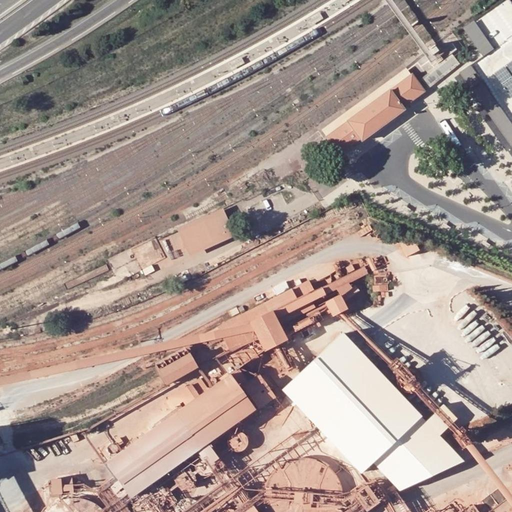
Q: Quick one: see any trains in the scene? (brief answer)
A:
Yes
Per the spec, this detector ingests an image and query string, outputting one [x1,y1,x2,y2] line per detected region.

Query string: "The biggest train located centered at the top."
[160,28,323,116]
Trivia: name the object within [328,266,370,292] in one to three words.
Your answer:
house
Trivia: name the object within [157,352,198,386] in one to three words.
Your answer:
shed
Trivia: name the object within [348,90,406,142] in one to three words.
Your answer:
train station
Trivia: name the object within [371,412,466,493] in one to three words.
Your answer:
building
